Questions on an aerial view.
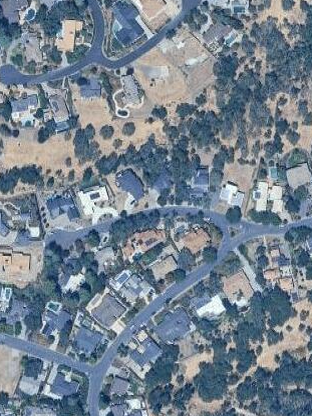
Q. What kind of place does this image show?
residential area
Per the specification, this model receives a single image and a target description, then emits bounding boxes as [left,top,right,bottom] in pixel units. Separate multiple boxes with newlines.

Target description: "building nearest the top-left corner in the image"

[2,0,32,23]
